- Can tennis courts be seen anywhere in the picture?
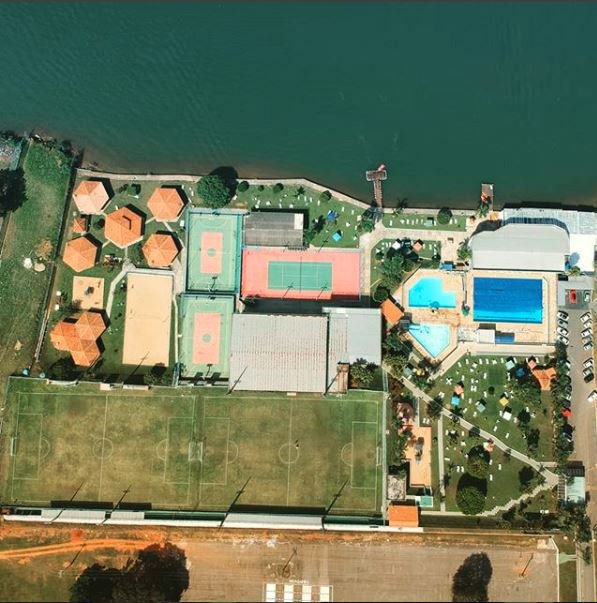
Yes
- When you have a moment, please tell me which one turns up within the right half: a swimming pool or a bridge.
swimming pool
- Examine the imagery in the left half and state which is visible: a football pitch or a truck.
football pitch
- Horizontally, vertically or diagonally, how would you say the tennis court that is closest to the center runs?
horizontally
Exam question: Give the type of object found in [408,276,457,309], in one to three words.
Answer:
swimming pool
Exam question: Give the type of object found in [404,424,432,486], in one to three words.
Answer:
playground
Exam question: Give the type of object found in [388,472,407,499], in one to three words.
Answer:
building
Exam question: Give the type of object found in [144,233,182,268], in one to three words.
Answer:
gazebo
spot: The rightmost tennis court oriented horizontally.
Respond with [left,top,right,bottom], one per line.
[241,248,360,300]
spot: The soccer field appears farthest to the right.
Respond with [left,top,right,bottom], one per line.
[196,392,384,519]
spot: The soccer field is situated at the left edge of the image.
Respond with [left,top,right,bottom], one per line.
[1,377,200,512]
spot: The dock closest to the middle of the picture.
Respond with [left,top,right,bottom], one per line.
[366,170,387,209]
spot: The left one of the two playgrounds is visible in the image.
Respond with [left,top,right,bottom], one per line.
[72,276,104,310]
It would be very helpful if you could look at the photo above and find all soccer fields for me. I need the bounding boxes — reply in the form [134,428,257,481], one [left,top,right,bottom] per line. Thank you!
[1,377,200,512]
[196,392,384,519]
